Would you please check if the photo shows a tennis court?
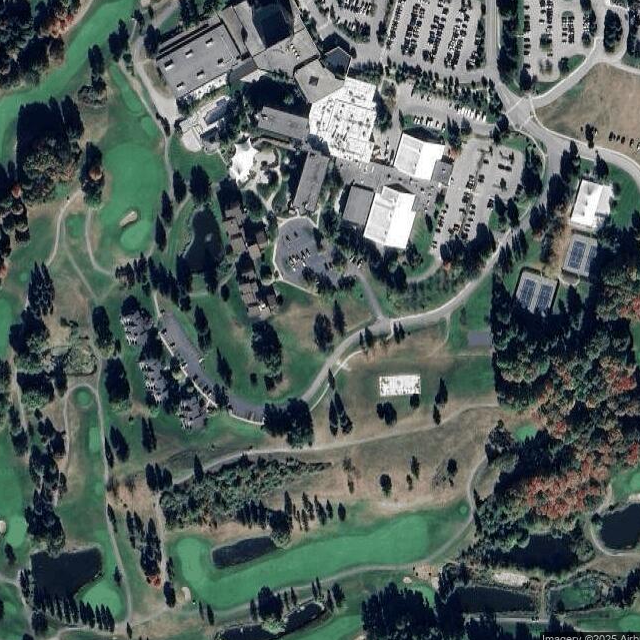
Yes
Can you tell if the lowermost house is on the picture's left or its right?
left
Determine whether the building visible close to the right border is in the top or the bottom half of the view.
top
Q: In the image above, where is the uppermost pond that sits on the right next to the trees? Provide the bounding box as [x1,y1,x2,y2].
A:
[599,503,640,548]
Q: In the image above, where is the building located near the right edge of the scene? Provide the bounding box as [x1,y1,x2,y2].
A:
[572,180,615,229]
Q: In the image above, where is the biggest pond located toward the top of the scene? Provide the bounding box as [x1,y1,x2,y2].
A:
[185,207,223,273]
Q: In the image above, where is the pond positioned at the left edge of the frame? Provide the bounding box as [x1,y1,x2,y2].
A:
[31,545,102,597]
